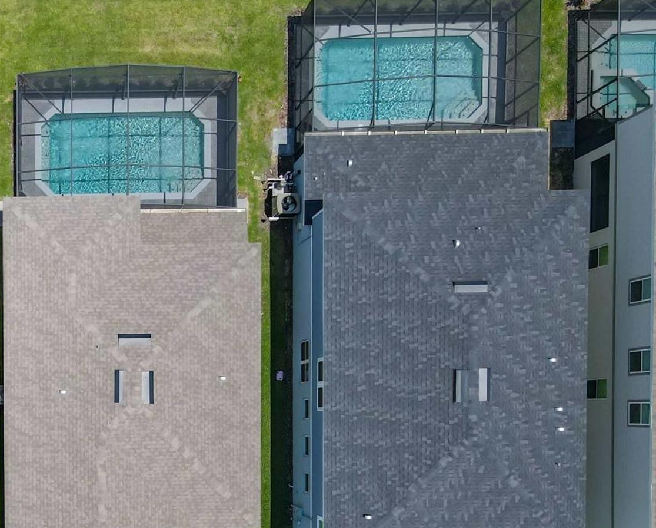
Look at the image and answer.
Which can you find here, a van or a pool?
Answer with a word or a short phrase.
pool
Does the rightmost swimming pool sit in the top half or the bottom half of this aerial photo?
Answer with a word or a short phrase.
top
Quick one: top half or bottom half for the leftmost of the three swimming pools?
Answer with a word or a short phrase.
top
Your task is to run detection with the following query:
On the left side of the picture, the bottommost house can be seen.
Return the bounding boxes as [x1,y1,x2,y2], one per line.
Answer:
[1,194,262,528]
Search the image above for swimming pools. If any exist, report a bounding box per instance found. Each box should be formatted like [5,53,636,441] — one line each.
[316,24,491,125]
[33,99,213,200]
[589,21,656,127]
